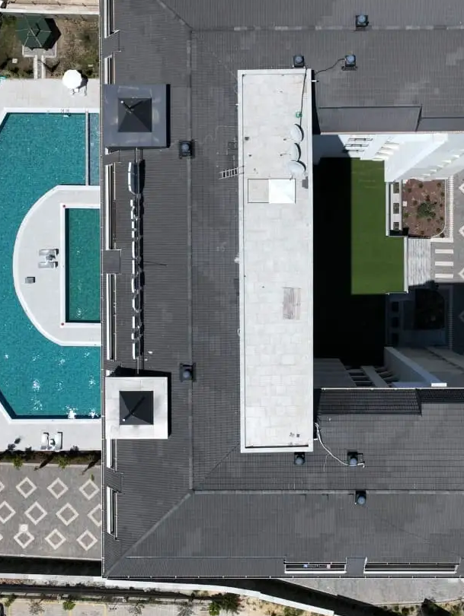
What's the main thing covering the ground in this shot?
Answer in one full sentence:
For the most part, this view shows buildings.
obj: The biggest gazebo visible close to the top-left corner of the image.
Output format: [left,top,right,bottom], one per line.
[15,17,59,54]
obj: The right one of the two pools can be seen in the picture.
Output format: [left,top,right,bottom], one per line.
[62,203,101,327]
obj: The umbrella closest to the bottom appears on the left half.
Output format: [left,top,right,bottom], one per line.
[62,69,83,89]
